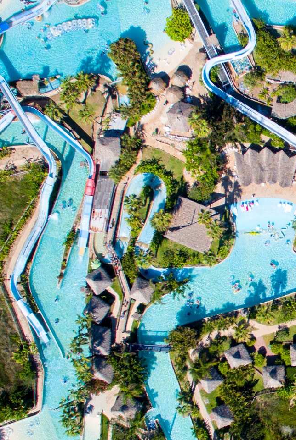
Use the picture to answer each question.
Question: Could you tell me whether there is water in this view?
Yes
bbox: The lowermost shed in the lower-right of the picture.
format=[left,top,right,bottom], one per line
[209,402,237,429]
